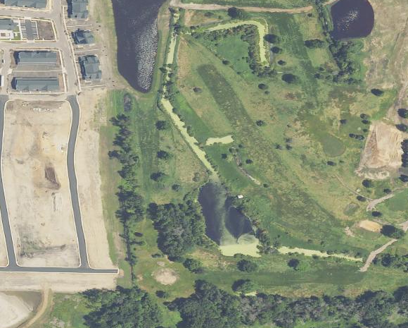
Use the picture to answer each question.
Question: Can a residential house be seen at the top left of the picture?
Yes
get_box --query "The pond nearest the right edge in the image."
[331,0,375,40]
